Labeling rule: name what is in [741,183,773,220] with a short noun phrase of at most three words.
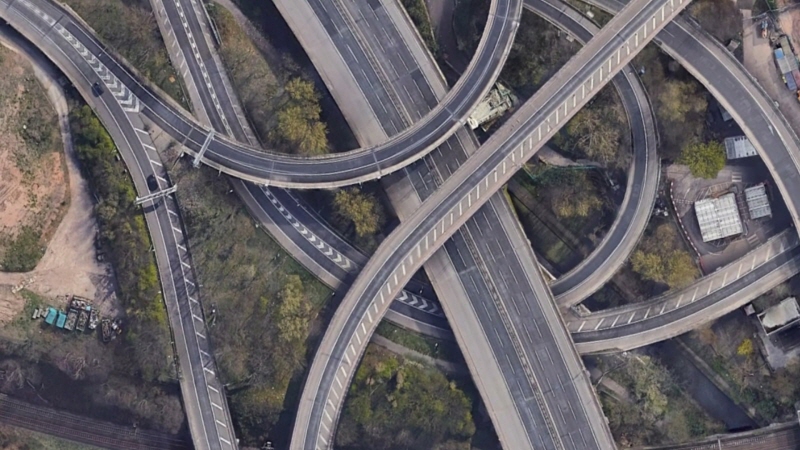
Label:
building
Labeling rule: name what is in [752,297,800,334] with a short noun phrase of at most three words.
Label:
building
